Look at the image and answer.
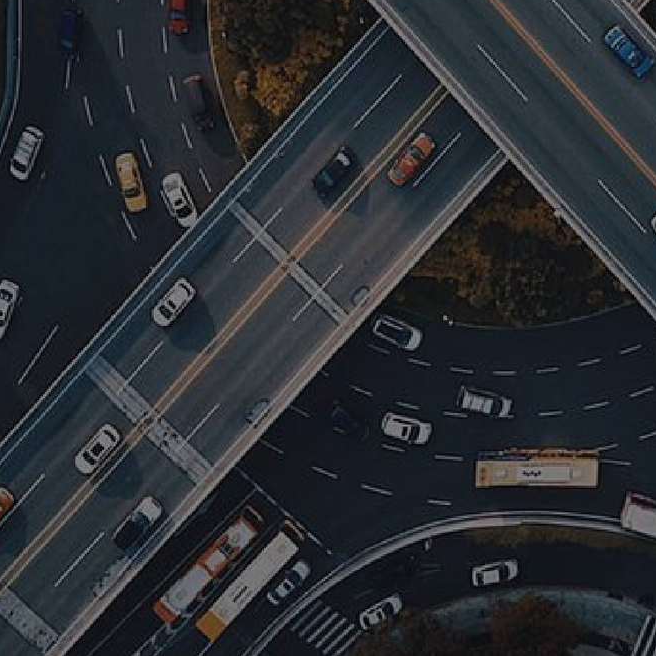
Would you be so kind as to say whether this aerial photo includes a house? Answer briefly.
No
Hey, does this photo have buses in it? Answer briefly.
Yes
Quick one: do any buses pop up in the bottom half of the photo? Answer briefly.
Yes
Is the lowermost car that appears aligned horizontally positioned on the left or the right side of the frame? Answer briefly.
right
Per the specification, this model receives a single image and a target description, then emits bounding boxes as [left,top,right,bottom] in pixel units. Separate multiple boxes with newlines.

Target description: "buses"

[617,494,656,539]
[154,505,267,622]
[476,452,602,488]
[195,523,306,642]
